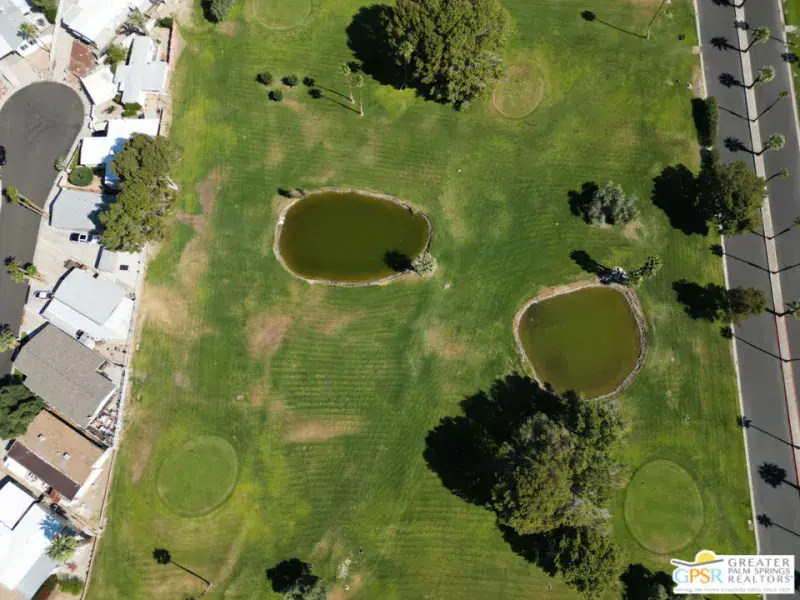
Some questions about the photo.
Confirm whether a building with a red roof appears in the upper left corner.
No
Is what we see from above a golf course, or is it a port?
golf course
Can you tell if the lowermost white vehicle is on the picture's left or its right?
left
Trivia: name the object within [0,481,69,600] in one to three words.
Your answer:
house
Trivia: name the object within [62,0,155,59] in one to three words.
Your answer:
house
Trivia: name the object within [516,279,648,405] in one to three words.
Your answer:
pond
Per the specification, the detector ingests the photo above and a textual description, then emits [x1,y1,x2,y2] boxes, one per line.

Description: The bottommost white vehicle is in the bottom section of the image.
[2,457,31,482]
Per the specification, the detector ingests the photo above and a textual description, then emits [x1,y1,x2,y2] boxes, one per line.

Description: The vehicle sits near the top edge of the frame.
[66,27,90,46]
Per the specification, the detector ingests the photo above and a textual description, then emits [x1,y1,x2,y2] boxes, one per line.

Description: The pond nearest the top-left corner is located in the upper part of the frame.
[276,188,432,287]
